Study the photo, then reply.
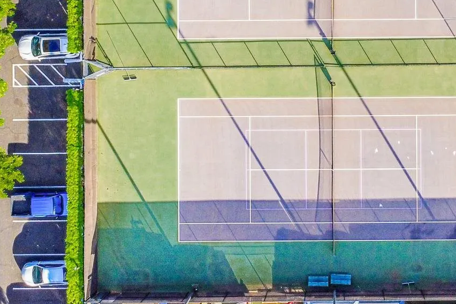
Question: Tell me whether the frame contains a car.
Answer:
Yes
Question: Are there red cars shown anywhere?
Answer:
No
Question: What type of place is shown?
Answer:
sports ground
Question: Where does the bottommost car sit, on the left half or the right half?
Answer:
left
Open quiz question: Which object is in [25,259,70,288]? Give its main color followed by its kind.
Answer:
blue car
